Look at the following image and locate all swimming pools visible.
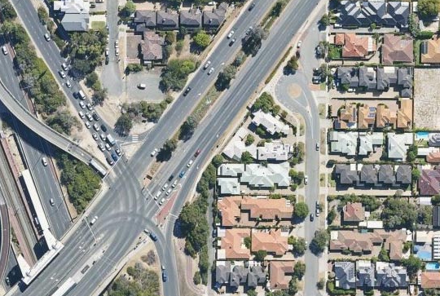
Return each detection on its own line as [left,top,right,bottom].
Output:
[417,250,432,261]
[416,131,430,140]
[425,261,440,272]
